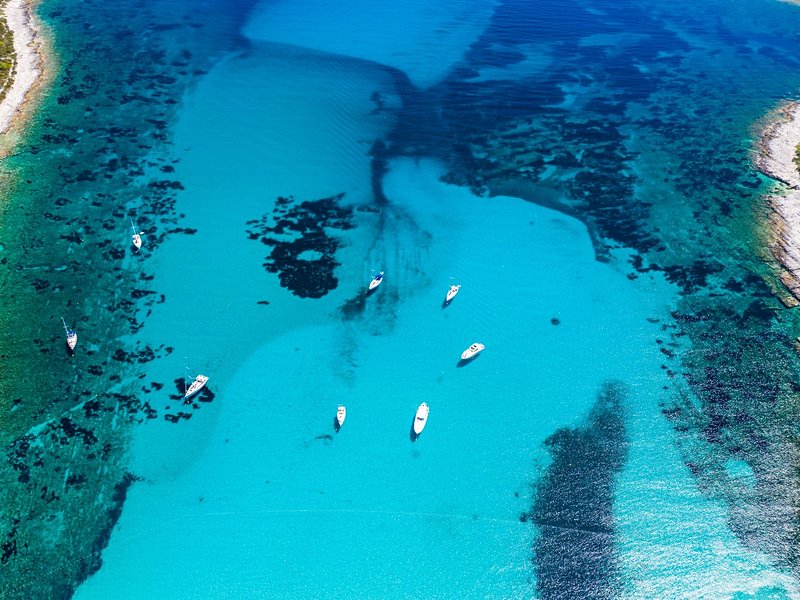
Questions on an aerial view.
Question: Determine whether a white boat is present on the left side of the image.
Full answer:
Yes, you'll find a white boat on the left side of the image.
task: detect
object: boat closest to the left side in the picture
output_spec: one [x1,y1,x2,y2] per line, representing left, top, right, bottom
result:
[62,316,77,351]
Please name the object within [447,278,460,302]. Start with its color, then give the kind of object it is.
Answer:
white boat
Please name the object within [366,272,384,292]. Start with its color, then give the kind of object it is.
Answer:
white boat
